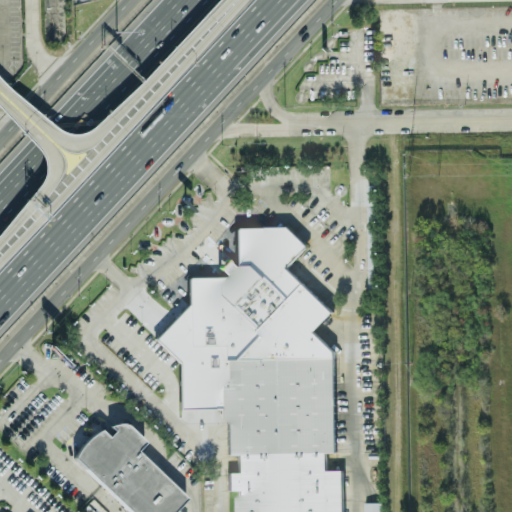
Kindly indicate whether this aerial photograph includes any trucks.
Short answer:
Yes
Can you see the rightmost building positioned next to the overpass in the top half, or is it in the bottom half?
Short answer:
bottom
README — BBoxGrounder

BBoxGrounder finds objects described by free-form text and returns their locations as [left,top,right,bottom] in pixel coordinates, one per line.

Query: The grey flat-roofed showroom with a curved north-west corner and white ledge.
[76,423,190,512]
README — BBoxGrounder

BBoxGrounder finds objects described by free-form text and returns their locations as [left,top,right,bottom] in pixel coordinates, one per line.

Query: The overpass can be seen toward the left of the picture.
[0,0,255,272]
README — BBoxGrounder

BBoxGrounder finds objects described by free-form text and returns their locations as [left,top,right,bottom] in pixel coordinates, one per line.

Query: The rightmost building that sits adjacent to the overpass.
[157,227,345,512]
